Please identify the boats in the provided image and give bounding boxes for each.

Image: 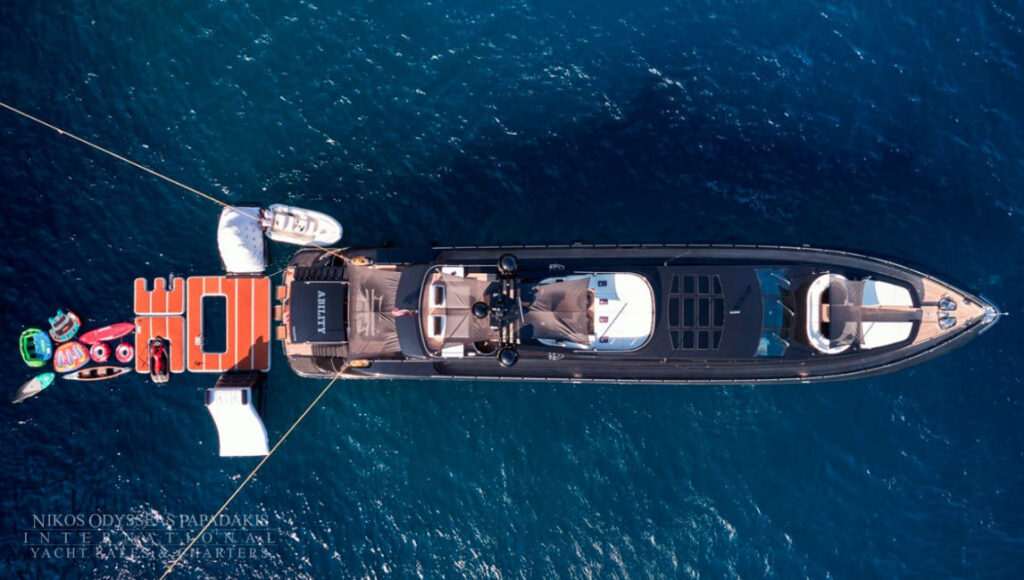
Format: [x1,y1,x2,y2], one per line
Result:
[61,366,133,380]
[274,245,1007,385]
[81,324,135,342]
[258,204,340,246]
[149,338,172,383]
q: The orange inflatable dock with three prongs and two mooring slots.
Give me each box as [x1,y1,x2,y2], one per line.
[135,277,187,315]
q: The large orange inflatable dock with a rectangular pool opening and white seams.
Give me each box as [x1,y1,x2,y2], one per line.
[188,276,272,372]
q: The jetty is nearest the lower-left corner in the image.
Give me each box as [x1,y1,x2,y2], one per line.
[135,317,186,372]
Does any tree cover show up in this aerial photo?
No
